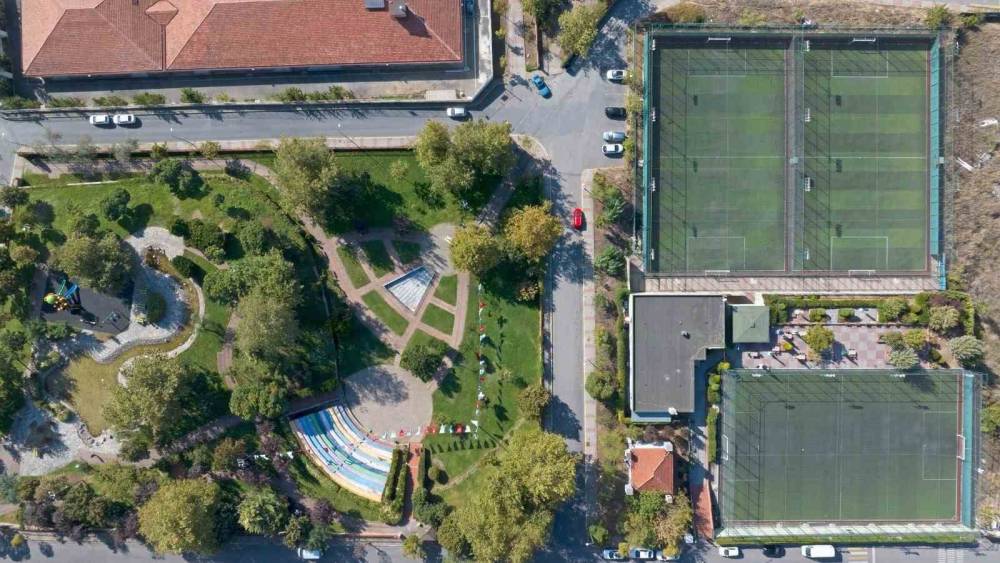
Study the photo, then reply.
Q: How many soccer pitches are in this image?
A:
three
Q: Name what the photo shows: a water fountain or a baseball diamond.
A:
water fountain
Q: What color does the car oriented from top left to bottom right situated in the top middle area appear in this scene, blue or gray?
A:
blue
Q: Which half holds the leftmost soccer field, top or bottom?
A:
top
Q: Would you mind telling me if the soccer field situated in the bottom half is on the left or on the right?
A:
right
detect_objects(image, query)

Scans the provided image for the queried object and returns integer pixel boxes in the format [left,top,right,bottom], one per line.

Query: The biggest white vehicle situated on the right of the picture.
[801,544,838,559]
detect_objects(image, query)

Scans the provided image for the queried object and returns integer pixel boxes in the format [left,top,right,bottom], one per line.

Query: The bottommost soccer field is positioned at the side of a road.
[720,371,963,524]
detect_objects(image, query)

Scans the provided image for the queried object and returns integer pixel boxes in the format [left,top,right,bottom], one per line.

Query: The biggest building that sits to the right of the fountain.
[631,295,727,418]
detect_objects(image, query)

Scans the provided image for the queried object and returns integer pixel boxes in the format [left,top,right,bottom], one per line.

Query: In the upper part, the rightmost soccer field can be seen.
[787,36,931,275]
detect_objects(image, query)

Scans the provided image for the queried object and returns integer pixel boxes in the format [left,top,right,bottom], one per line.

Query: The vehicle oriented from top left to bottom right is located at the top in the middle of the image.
[531,75,553,99]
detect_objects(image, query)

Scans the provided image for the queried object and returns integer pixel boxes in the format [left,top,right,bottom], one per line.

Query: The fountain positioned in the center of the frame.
[385,265,435,310]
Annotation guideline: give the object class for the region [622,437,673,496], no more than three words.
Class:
house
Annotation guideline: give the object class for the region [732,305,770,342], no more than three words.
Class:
building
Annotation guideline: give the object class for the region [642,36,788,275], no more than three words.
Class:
soccer field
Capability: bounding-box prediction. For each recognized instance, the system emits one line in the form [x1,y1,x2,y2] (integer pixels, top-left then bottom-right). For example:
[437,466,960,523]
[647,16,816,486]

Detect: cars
[531,75,553,99]
[629,547,653,559]
[655,549,669,561]
[603,131,625,141]
[605,71,626,80]
[602,548,625,559]
[602,143,623,154]
[762,545,784,557]
[446,107,466,117]
[604,107,626,118]
[718,545,738,556]
[90,114,111,125]
[114,114,136,125]
[299,547,320,558]
[573,208,583,229]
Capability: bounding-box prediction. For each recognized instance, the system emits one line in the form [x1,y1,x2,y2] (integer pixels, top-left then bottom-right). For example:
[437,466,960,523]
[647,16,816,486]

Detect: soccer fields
[787,36,931,275]
[720,371,963,524]
[642,36,788,275]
